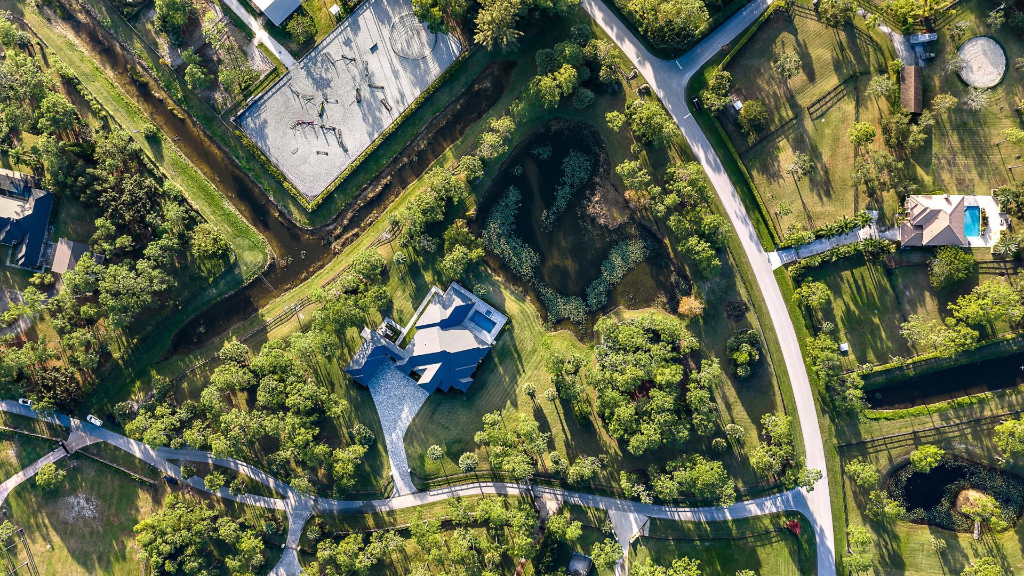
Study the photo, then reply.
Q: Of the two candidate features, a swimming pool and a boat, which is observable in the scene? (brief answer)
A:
swimming pool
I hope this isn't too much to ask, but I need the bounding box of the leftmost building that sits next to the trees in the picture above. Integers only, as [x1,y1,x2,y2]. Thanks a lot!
[0,188,59,267]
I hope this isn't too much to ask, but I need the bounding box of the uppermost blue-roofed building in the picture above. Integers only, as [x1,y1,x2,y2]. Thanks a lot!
[254,0,304,28]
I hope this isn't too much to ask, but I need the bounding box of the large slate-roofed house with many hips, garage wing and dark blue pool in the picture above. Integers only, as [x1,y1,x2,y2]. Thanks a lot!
[344,287,491,398]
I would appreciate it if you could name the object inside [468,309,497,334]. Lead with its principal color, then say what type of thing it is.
blue swimming pool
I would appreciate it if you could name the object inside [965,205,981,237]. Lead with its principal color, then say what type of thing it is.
blue swimming pool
